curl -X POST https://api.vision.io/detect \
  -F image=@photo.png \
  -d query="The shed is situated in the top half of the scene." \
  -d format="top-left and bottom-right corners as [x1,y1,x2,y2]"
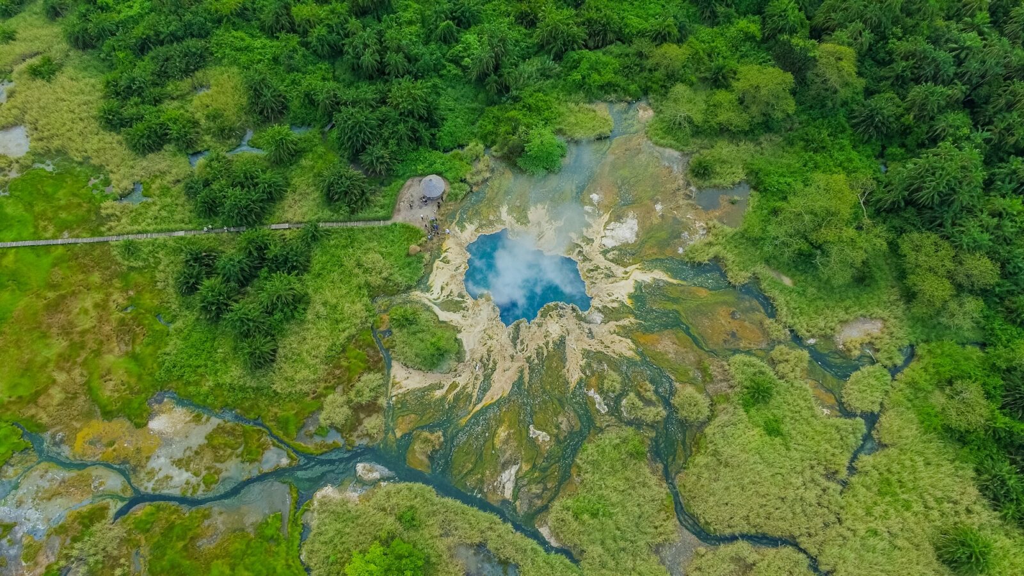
[420,177,445,202]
